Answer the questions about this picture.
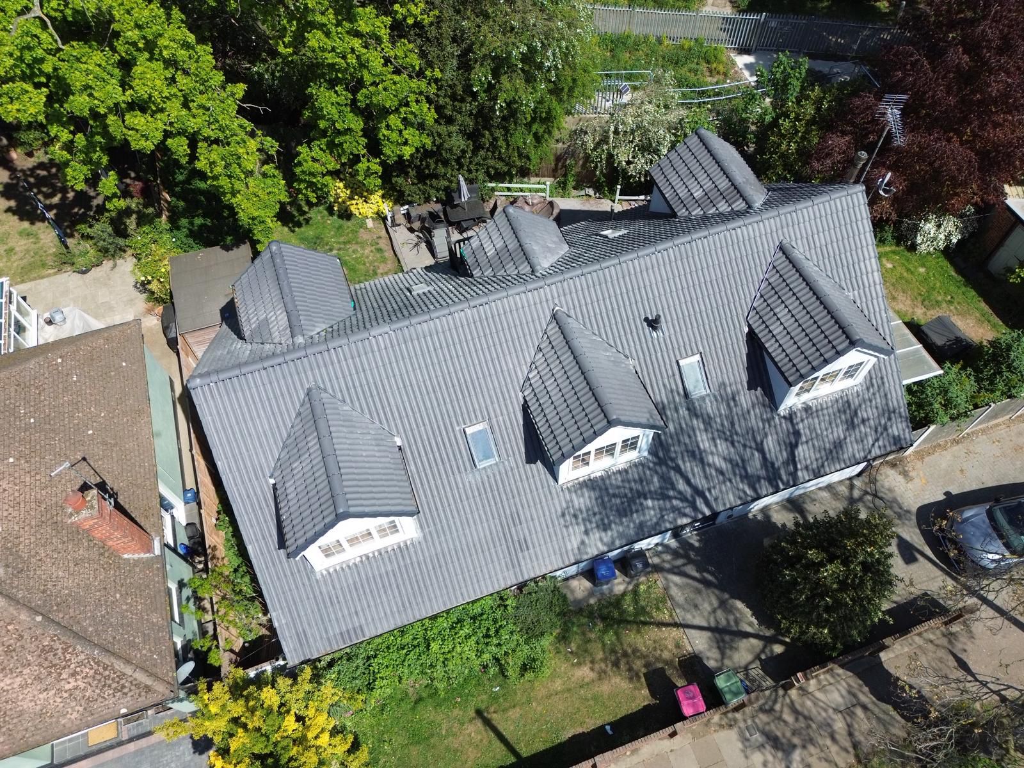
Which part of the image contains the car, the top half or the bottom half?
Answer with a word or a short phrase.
bottom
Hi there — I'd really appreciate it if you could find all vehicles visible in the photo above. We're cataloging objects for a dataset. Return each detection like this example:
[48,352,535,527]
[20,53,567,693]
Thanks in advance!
[934,487,1024,579]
